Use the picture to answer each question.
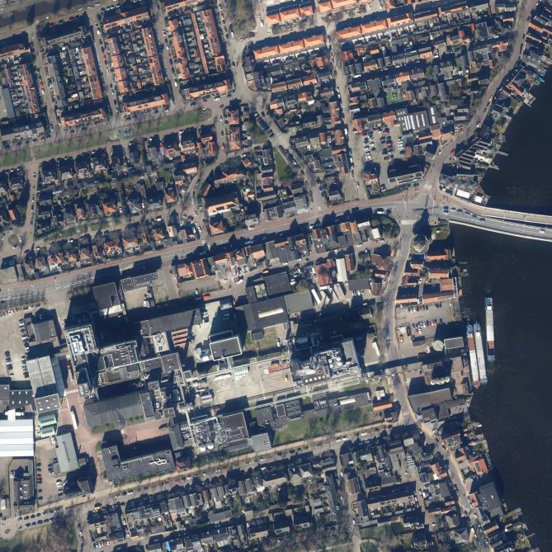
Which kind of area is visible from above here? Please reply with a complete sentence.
It's a residential area.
